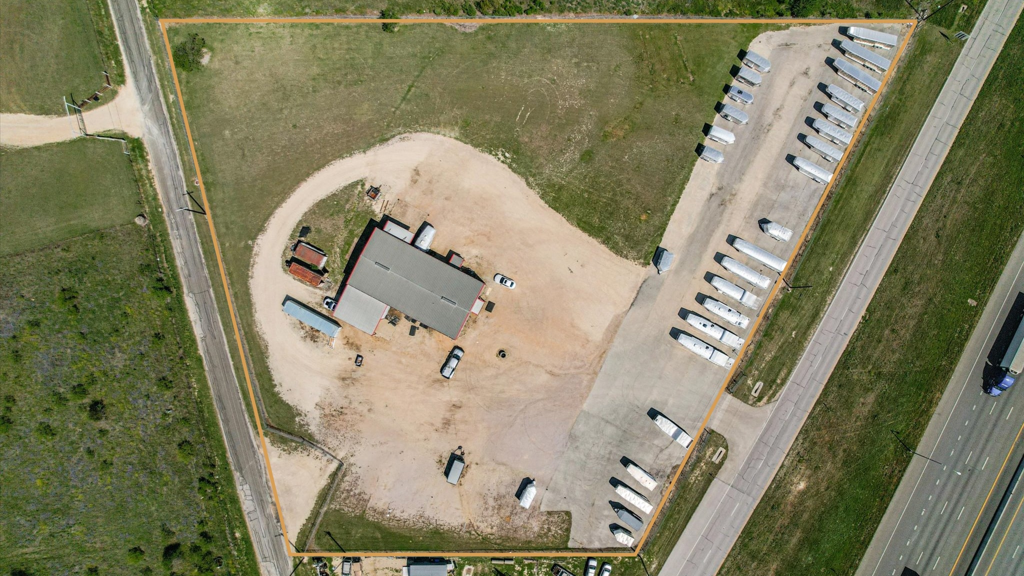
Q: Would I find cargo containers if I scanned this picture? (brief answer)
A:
Yes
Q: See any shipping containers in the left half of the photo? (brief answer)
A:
Yes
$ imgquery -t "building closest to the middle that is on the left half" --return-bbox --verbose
[332,220,485,340]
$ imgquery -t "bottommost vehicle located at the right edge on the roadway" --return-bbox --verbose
[987,321,1024,397]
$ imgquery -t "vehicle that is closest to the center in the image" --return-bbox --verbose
[493,274,516,288]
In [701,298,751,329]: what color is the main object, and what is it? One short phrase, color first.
white trailer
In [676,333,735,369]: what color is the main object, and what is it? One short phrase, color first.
white trailer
